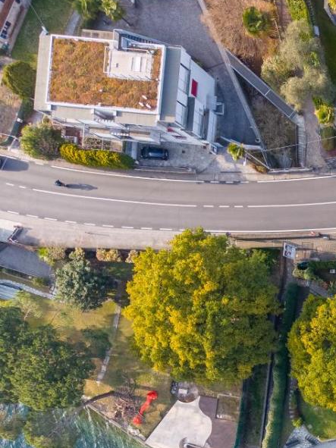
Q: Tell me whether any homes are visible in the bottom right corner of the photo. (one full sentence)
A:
No, I can find no home in the bottom right corner of the photo.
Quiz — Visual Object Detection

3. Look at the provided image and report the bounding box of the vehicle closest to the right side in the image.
[138,146,168,162]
